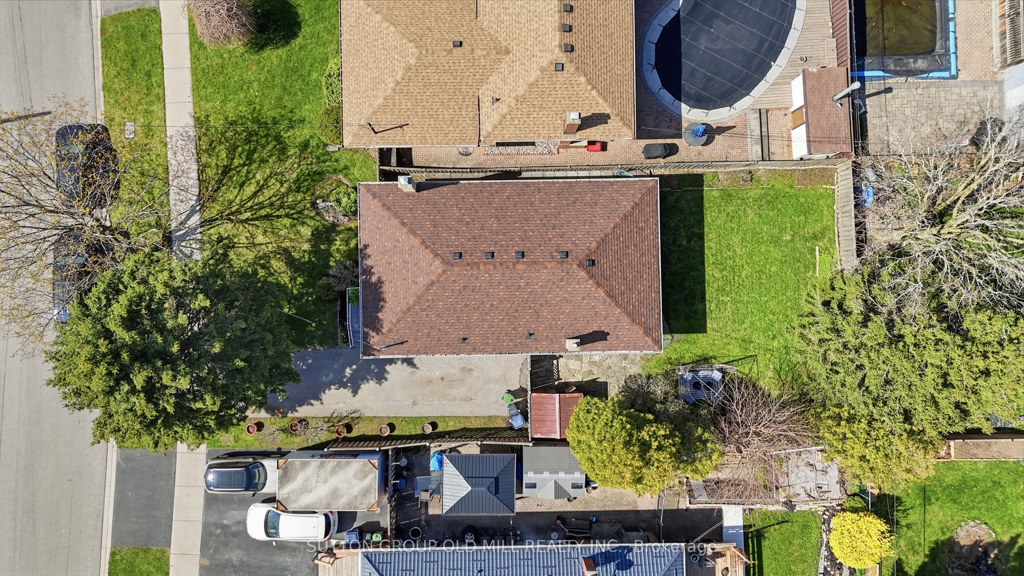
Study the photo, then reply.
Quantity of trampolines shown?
0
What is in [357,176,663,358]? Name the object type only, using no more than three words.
house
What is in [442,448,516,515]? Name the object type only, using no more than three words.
gazebo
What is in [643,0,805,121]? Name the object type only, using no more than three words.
swimming pool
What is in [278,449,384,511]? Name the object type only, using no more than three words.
trailer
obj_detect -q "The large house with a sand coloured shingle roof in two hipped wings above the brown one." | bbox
[340,0,636,150]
